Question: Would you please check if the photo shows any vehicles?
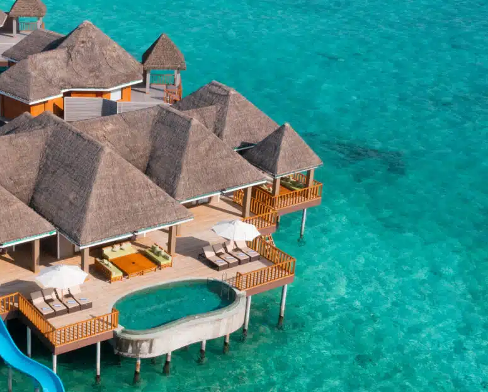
No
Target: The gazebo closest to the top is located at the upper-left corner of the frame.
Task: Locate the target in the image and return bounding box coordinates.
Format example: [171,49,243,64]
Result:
[11,0,46,38]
